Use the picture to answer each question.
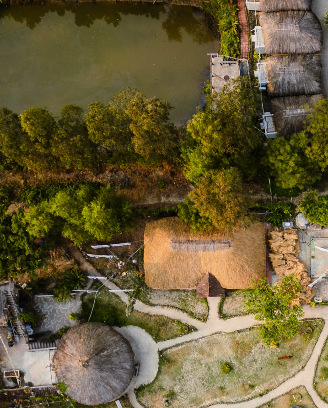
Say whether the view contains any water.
Yes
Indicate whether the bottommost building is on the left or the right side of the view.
left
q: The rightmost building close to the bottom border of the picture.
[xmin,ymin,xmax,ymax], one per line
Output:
[54,322,137,406]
